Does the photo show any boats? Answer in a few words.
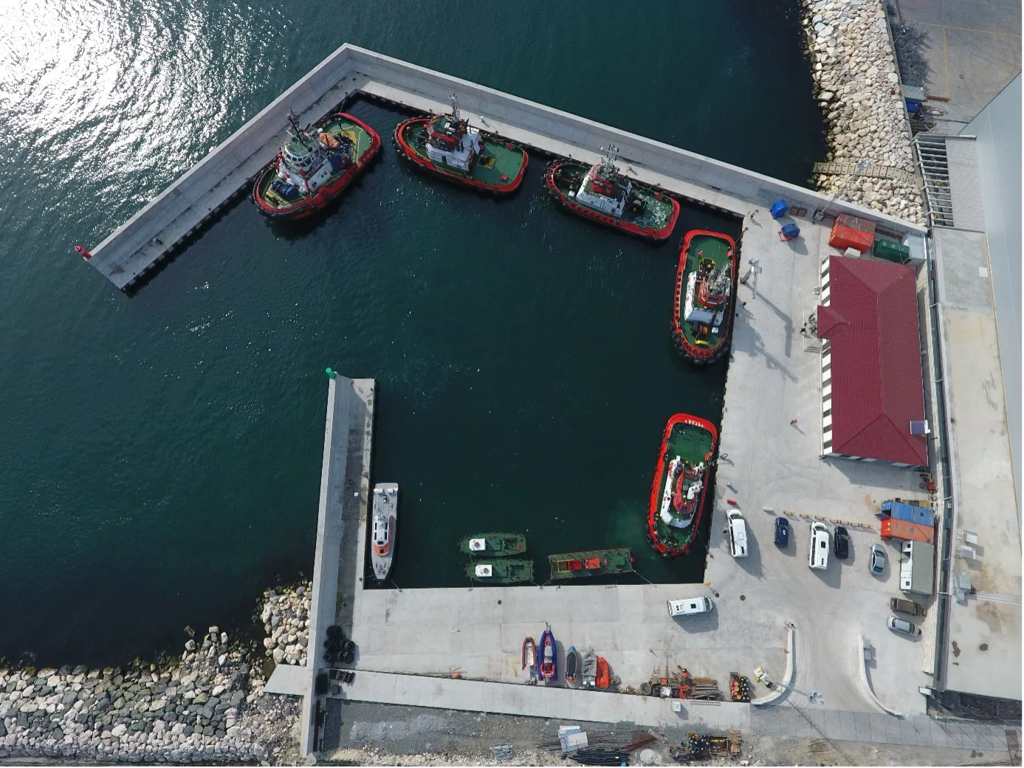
Yes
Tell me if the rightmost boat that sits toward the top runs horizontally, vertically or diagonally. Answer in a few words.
vertically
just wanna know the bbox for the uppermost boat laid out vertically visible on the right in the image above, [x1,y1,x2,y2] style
[673,233,738,365]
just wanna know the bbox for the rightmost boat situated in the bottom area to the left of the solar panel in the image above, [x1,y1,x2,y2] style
[647,414,716,558]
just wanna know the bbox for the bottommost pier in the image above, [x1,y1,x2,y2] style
[306,376,378,669]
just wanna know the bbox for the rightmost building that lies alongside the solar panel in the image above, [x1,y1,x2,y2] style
[921,227,1024,701]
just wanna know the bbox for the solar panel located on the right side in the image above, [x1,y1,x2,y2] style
[908,420,929,436]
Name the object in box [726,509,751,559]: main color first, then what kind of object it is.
white vehicle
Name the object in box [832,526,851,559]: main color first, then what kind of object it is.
black car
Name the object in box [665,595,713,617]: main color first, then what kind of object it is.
white vehicle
